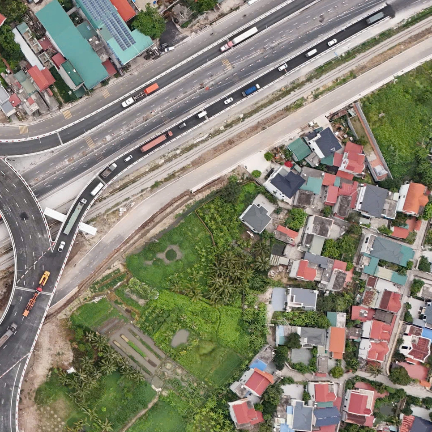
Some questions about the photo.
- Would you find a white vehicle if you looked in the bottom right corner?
No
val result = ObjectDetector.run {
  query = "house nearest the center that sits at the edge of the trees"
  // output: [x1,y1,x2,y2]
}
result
[238,204,273,234]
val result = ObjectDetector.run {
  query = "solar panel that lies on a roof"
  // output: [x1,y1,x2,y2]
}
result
[85,0,135,51]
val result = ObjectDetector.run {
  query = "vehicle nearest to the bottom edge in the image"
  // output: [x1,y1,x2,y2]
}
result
[0,322,17,348]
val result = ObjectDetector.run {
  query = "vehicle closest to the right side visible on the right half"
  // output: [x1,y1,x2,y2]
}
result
[364,9,387,26]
